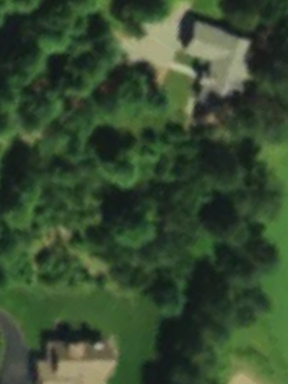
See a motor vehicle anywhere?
No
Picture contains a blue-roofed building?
No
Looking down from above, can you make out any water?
No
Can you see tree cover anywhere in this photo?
Yes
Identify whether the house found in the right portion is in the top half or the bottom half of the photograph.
top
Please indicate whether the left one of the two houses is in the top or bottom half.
bottom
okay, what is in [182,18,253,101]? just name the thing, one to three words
house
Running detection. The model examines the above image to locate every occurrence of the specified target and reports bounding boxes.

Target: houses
[37,342,116,384]
[182,18,253,101]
